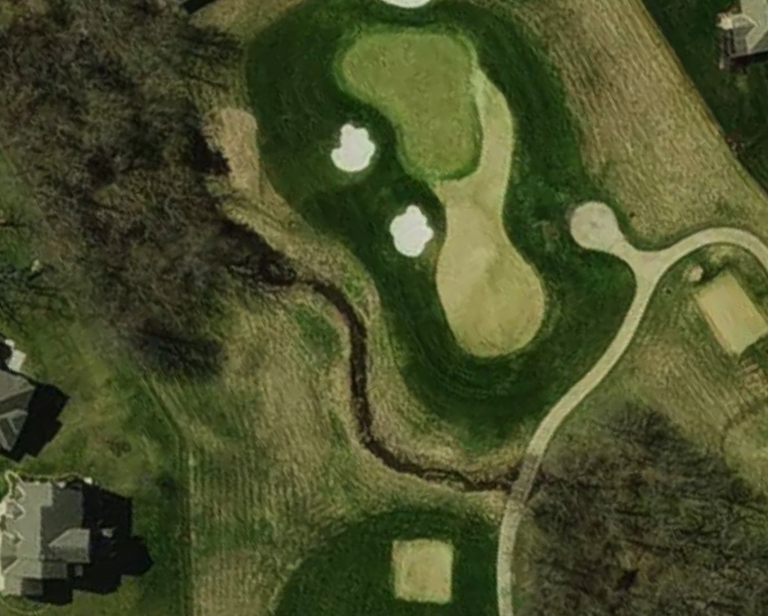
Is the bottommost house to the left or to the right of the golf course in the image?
left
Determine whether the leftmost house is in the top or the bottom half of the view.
bottom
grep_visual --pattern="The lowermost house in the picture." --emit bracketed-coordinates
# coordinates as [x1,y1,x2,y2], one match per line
[0,481,110,596]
